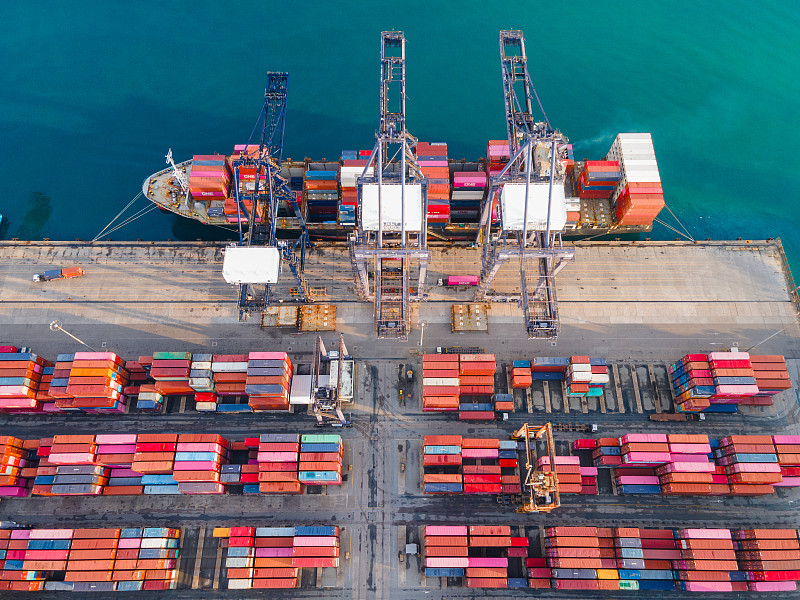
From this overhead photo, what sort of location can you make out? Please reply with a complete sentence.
The area seen from above is a port.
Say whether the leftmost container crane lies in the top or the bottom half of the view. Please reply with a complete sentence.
The top half of the photo is where the leftmost container crane is.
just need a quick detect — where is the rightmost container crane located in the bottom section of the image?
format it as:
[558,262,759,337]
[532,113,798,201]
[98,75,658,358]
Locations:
[513,422,561,516]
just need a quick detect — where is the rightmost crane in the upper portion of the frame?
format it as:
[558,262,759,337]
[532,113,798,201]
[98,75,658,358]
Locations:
[466,29,580,338]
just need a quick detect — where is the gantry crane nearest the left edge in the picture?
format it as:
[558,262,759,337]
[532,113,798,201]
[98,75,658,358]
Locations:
[216,74,321,321]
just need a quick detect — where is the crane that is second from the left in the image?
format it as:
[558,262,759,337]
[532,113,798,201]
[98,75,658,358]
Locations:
[309,336,351,427]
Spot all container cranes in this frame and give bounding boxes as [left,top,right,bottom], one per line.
[466,29,580,338]
[513,422,561,516]
[309,336,351,427]
[347,29,438,338]
[216,74,321,321]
